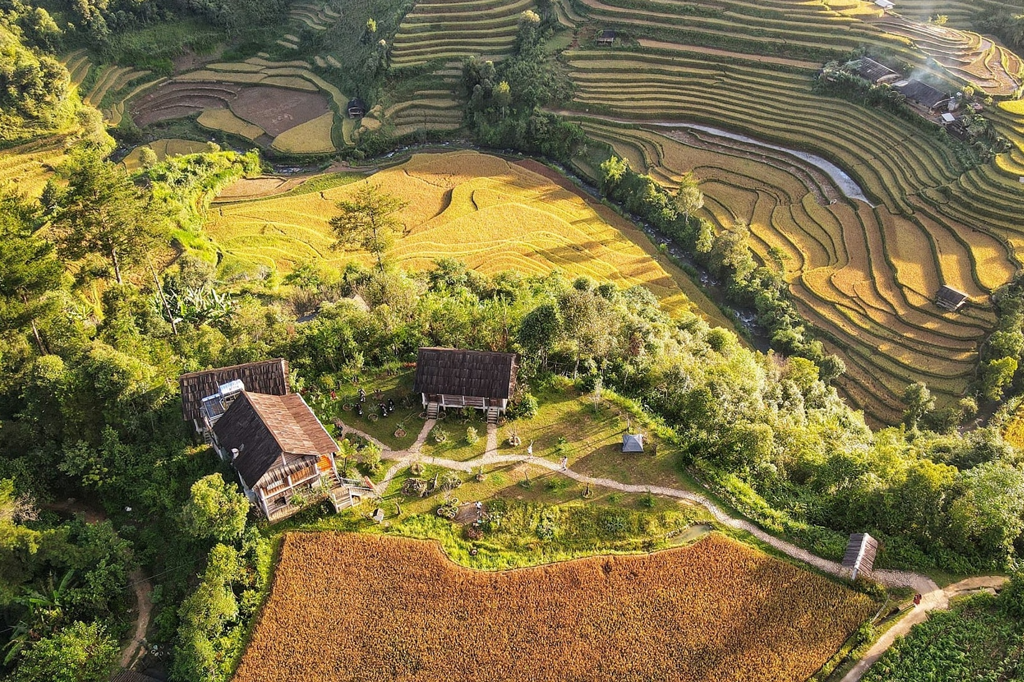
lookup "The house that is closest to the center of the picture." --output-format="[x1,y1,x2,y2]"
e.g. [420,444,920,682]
[413,346,519,431]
